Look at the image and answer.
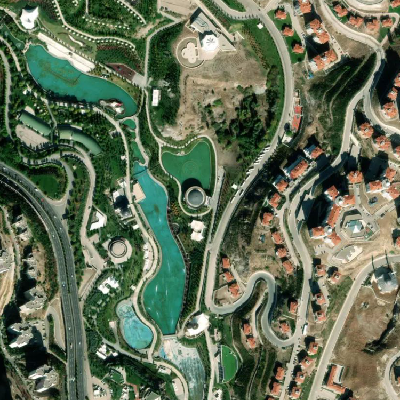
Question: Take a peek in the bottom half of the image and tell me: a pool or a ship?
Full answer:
You can see a pool in the bottom half of the image.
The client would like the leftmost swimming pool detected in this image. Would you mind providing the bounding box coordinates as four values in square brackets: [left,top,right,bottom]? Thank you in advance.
[117,304,153,349]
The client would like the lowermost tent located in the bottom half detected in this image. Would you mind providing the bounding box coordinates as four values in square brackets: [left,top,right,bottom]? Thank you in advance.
[188,313,209,335]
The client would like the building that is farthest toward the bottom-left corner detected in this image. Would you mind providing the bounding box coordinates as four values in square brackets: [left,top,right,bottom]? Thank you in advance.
[30,364,59,390]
